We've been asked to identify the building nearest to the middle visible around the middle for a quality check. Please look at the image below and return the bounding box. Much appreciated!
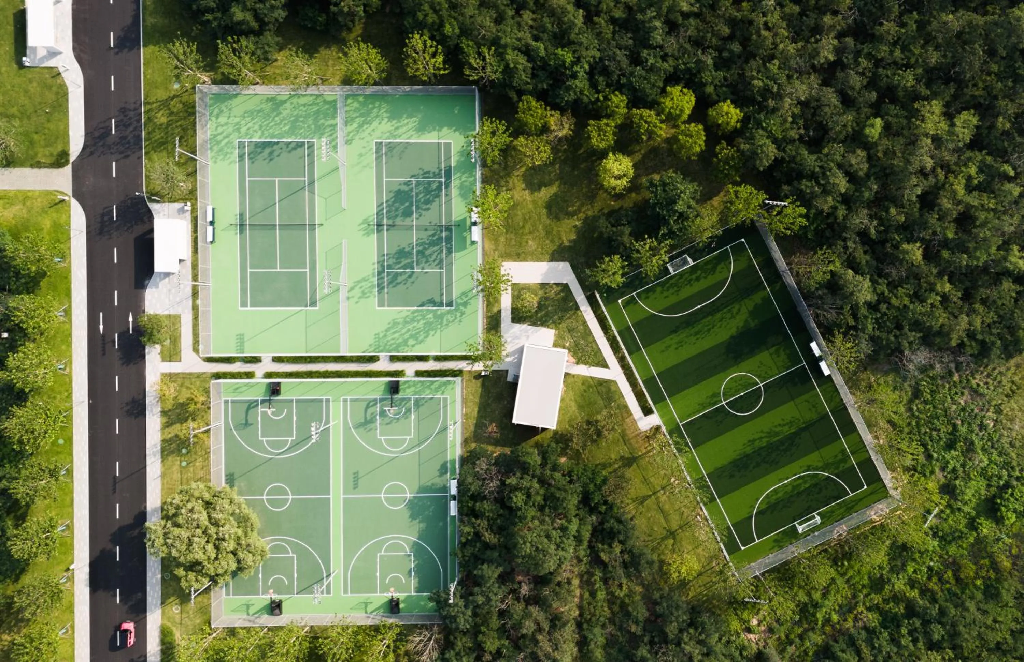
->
[513,344,568,429]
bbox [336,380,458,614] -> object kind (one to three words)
basketball court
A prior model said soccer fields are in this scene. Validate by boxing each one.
[602,217,891,568]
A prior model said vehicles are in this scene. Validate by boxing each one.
[117,623,134,651]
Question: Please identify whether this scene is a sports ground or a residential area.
sports ground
